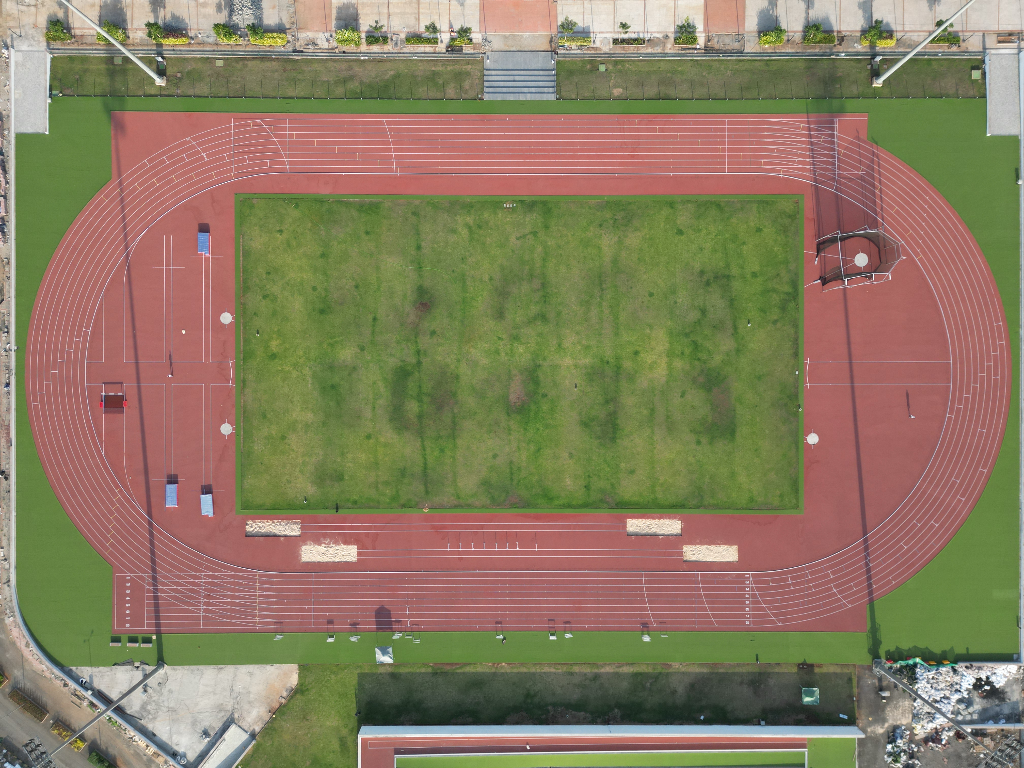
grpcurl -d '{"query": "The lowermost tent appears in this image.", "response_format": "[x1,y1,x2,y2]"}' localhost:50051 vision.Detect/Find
[799,684,819,705]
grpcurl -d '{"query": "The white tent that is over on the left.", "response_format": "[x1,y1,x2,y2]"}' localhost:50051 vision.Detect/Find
[375,641,396,664]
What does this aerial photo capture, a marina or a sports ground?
sports ground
